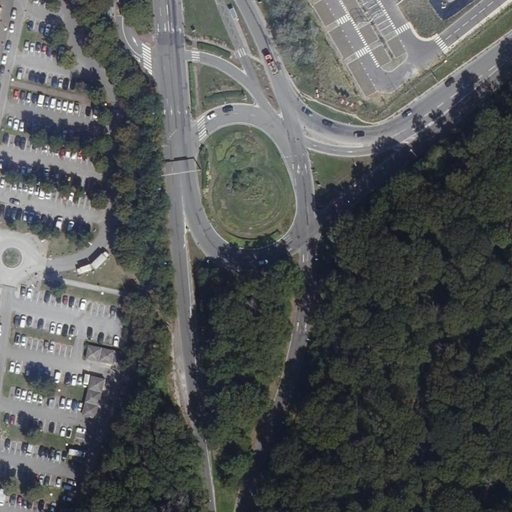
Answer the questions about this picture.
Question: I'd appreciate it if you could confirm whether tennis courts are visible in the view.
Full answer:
No, there's no tennis court here.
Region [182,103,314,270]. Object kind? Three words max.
roundabout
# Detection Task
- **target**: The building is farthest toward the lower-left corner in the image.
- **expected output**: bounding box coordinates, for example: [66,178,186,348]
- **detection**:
[82,376,105,419]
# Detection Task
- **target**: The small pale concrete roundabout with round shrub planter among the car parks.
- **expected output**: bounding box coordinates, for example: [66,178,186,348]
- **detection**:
[0,230,48,288]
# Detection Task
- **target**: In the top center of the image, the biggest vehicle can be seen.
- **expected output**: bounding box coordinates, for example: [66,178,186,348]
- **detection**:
[263,52,278,74]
